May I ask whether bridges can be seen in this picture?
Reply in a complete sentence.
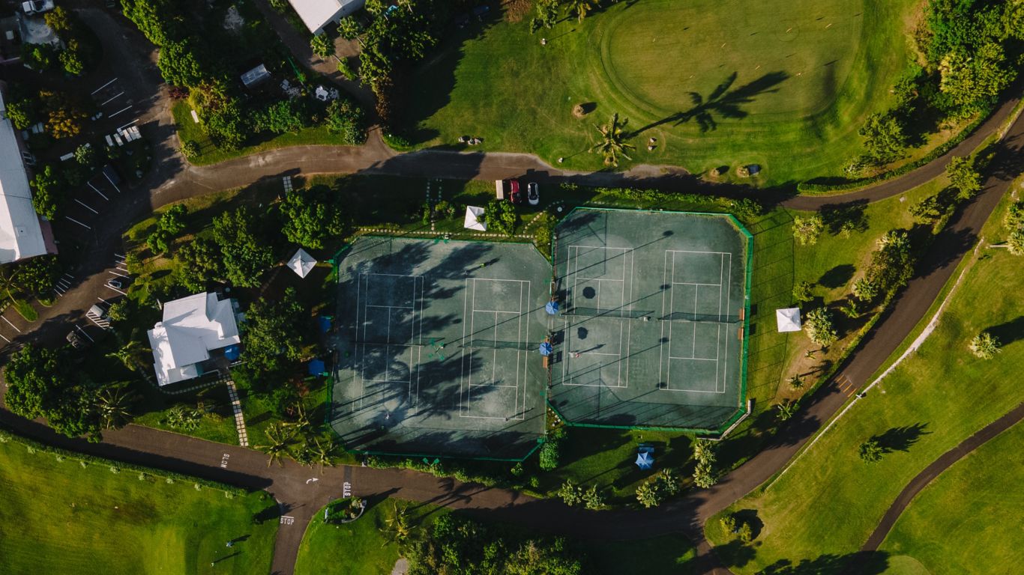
No, no bridge can be seen from above.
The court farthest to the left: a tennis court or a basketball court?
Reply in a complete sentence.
I'd say the court farthest to the left is a tennis court.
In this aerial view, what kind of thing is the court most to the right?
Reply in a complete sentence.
Specifically, the court most to the right is a tennis court.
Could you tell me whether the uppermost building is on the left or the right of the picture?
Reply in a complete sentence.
The uppermost building sits on the left side.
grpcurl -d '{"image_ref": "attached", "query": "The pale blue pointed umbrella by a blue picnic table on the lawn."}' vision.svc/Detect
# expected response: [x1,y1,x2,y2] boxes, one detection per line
[636,450,653,467]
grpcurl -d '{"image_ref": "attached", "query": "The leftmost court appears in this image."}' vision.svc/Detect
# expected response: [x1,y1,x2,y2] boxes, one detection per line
[333,240,548,455]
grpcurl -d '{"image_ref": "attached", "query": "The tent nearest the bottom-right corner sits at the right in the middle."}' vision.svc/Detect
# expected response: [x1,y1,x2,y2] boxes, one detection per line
[773,308,801,332]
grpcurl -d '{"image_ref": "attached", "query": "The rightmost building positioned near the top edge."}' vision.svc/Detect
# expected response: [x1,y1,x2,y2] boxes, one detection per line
[292,0,359,36]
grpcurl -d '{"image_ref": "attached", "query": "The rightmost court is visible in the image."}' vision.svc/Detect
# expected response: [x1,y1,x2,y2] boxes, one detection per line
[549,213,740,423]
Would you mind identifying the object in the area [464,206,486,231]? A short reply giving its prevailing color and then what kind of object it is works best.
white tent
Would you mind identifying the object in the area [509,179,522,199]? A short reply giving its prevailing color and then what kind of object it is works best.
red vehicle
